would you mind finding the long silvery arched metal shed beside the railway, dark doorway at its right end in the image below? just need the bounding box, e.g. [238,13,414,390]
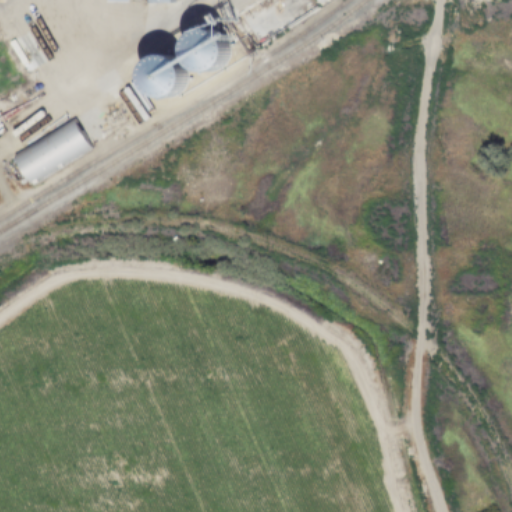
[18,116,92,182]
